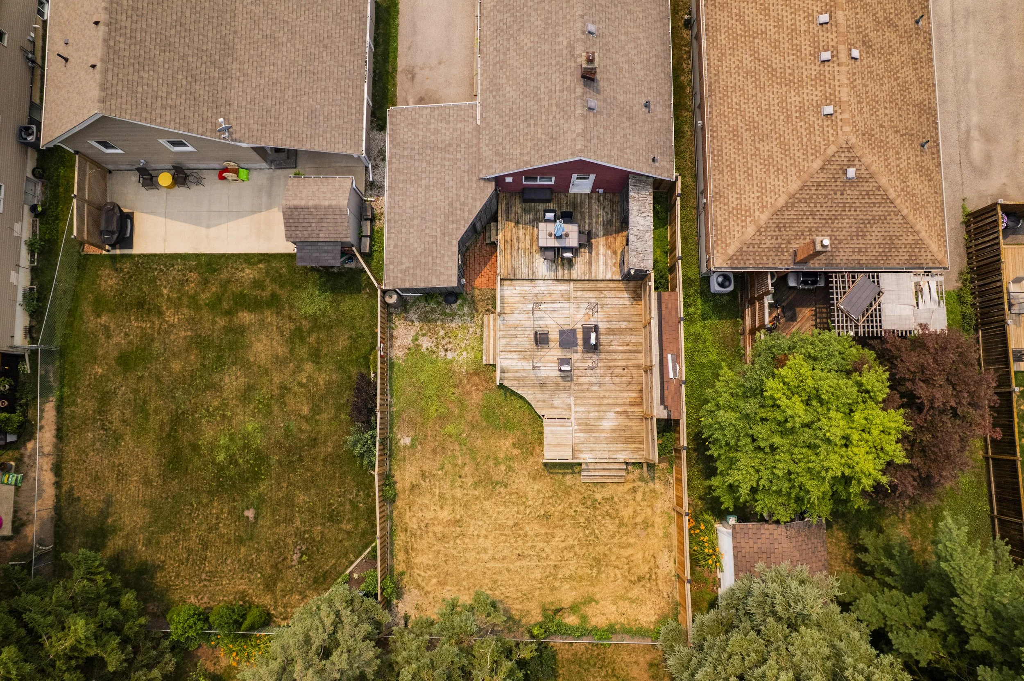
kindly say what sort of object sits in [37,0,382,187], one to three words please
house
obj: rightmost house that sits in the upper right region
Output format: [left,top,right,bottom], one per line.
[690,0,953,276]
